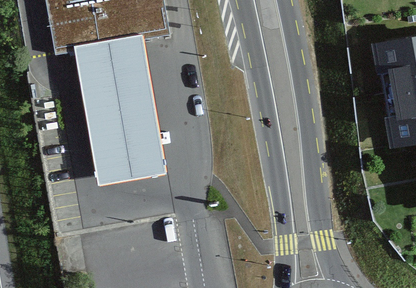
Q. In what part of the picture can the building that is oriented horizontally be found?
top left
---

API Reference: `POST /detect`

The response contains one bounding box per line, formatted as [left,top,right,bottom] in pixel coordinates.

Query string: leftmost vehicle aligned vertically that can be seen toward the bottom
[164,218,176,242]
